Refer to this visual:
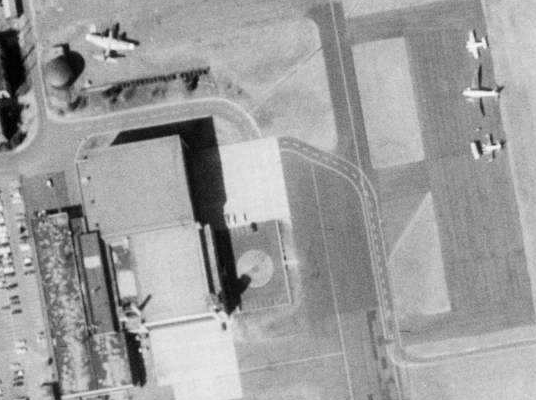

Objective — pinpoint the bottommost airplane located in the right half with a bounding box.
[480,135,499,161]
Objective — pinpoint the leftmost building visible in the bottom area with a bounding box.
[33,213,139,400]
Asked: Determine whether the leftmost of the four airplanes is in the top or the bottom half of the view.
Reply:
top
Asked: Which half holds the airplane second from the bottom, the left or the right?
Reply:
right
